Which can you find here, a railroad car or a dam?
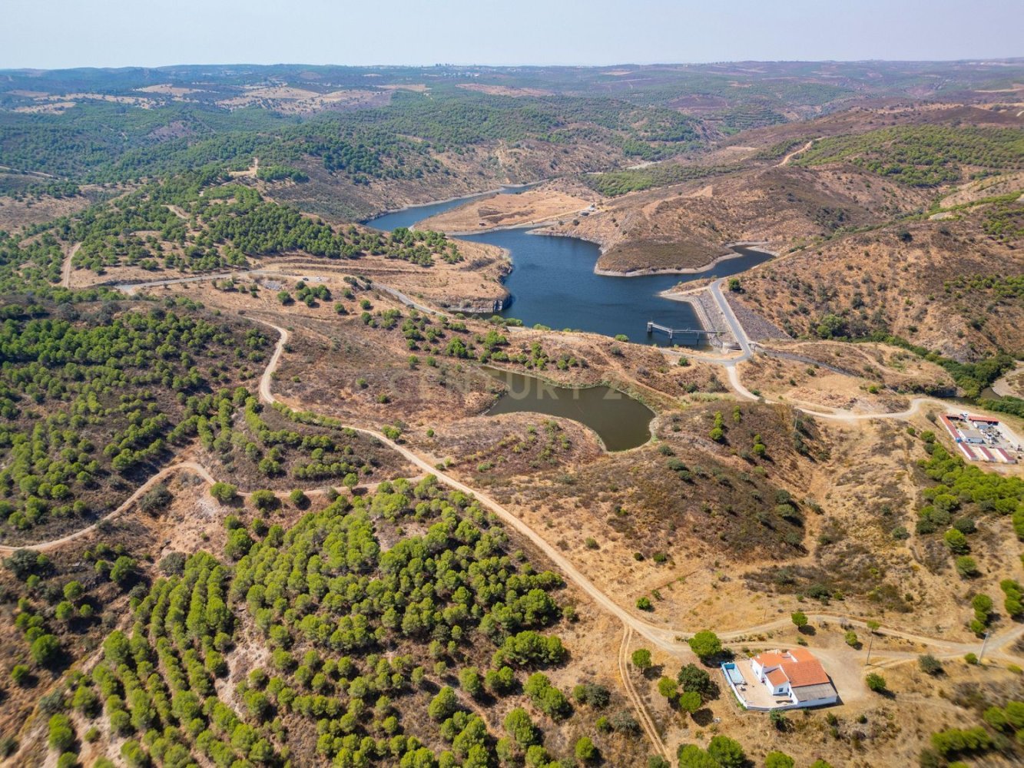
dam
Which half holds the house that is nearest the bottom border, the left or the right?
right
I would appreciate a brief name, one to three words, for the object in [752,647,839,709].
house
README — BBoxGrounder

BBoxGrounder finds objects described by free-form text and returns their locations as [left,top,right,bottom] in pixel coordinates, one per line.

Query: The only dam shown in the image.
[687,283,779,364]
